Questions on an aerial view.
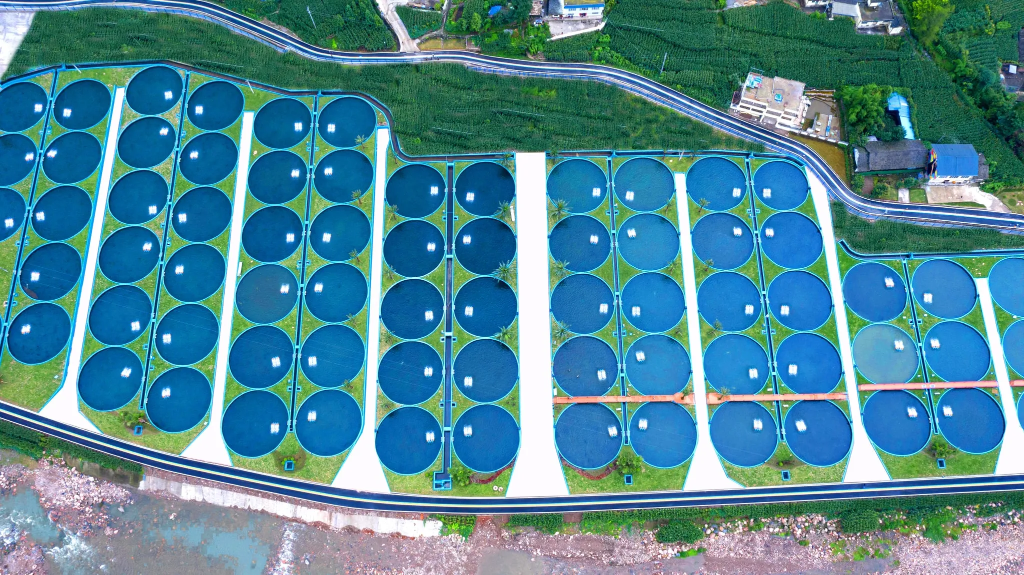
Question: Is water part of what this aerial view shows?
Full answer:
Yes, water shows up in the scene.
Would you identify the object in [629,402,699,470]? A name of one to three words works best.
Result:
pond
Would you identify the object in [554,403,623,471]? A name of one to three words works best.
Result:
pond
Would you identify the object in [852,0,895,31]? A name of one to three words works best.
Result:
house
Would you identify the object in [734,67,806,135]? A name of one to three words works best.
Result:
house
